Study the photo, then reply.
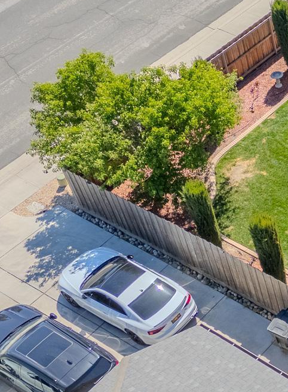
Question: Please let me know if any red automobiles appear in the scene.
No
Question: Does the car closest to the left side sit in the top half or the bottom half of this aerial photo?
bottom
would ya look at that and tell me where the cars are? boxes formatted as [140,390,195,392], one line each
[51,245,190,345]
[0,308,111,392]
